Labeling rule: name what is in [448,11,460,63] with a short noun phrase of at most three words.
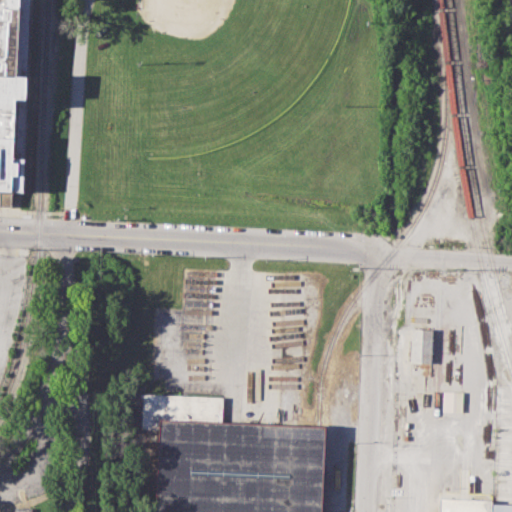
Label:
rail car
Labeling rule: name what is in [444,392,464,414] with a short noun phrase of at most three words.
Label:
building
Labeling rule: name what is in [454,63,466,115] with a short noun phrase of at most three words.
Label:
rail car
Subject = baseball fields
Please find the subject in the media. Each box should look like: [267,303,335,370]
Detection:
[78,0,385,234]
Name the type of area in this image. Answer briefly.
sports ground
